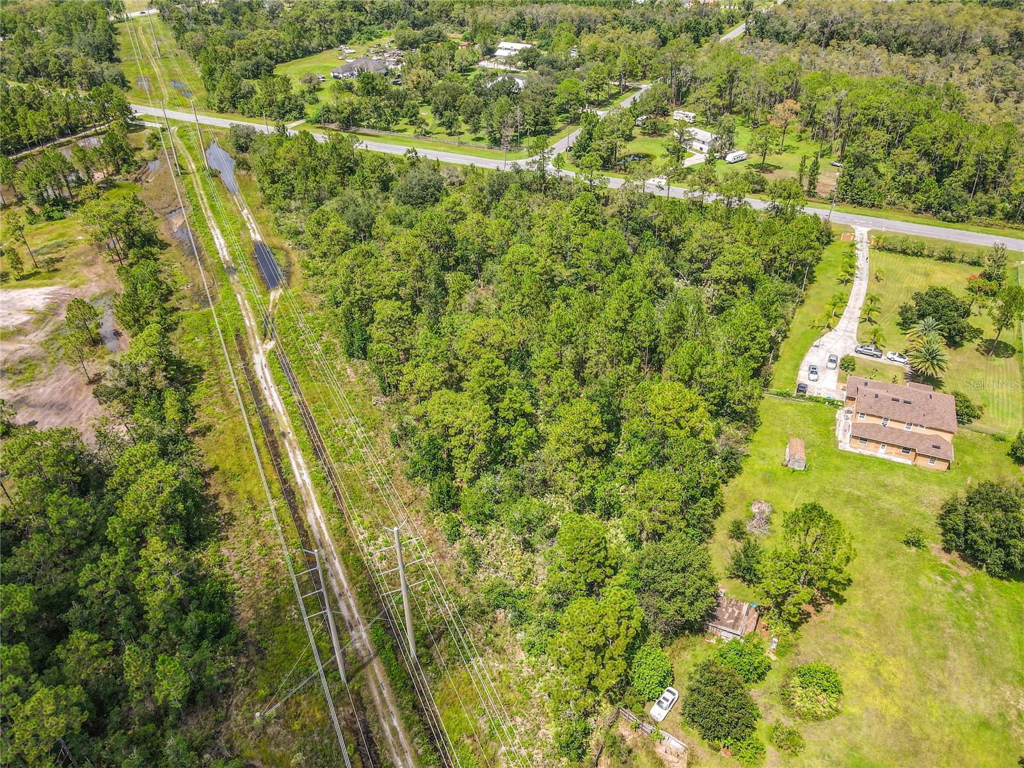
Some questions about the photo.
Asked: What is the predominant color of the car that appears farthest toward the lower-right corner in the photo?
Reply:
white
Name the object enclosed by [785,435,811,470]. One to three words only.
shed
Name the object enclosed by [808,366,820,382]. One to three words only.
vehicle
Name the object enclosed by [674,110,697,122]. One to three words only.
vehicle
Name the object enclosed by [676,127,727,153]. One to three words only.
house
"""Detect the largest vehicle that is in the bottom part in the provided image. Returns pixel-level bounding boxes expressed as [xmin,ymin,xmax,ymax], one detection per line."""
[650,685,684,722]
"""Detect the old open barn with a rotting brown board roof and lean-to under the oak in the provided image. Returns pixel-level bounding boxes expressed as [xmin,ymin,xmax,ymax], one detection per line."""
[700,593,758,640]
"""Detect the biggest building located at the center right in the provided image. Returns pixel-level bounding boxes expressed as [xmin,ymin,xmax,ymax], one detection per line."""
[843,372,960,473]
